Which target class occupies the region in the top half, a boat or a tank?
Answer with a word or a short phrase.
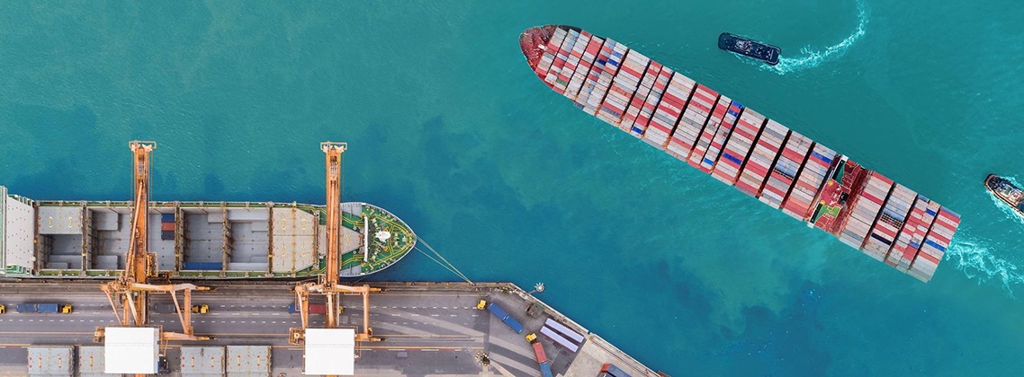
boat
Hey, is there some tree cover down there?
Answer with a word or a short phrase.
No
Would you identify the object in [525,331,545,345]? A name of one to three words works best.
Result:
vehicle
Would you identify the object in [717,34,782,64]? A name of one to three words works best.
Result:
boat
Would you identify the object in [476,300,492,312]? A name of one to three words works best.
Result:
vehicle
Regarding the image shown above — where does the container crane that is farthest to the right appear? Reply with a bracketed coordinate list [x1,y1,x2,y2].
[277,141,400,377]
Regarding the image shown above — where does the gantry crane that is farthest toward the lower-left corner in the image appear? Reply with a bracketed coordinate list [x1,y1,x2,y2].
[93,141,226,377]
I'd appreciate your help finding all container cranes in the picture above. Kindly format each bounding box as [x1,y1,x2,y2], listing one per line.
[93,141,226,377]
[277,141,400,377]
